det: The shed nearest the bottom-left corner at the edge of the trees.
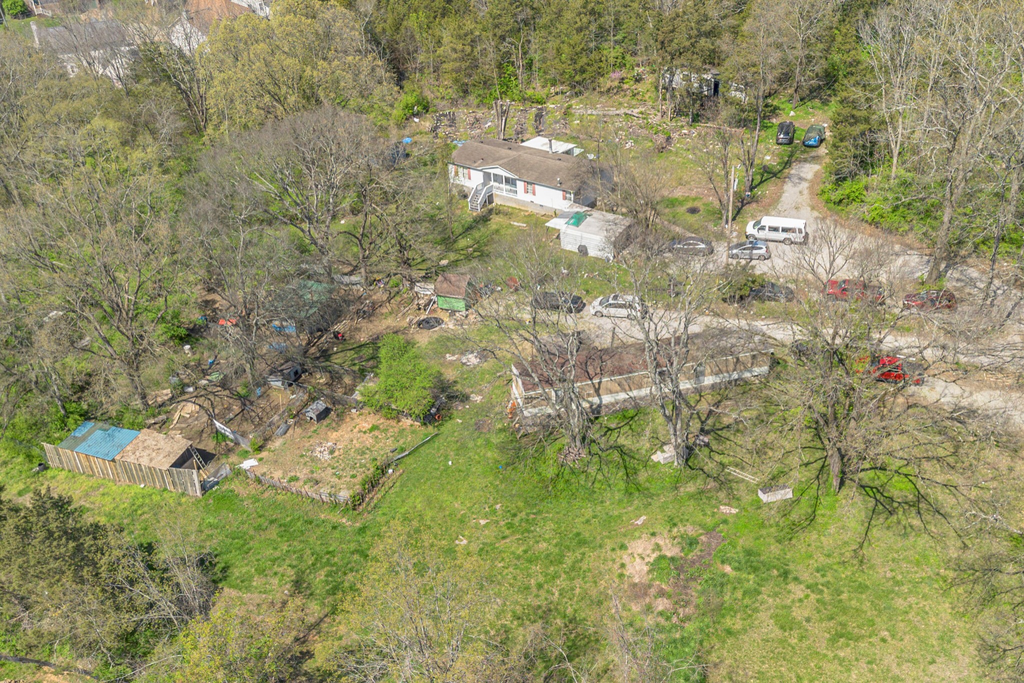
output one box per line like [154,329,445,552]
[48,409,197,491]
